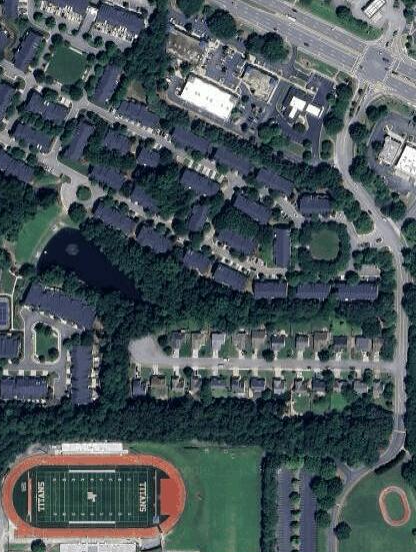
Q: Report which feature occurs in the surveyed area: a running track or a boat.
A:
running track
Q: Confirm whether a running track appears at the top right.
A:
No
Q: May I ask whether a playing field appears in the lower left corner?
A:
Yes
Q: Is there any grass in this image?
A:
Yes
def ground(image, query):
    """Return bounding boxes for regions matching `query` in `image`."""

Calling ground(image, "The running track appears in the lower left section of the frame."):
[1,454,186,539]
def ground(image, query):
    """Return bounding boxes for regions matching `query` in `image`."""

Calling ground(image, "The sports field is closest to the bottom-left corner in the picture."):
[34,469,150,524]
